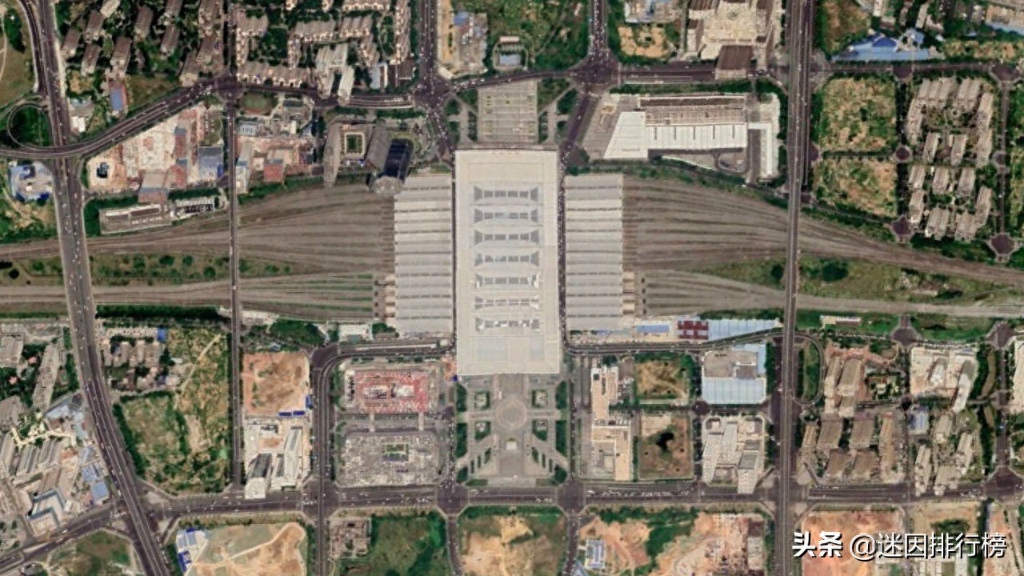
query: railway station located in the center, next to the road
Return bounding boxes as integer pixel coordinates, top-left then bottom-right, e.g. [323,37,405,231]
[376,150,645,374]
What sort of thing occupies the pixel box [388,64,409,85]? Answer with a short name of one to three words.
building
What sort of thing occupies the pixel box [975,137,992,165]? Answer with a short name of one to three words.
building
